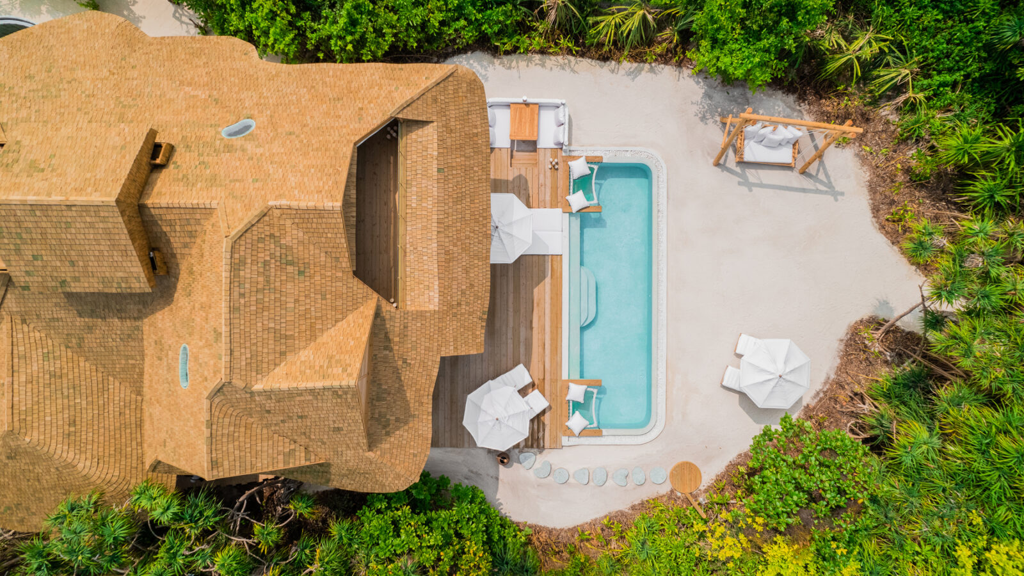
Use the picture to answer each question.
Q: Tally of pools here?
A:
1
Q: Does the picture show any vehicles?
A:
No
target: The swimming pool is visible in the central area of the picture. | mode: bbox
[561,148,667,445]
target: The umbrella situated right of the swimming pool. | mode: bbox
[741,341,808,407]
